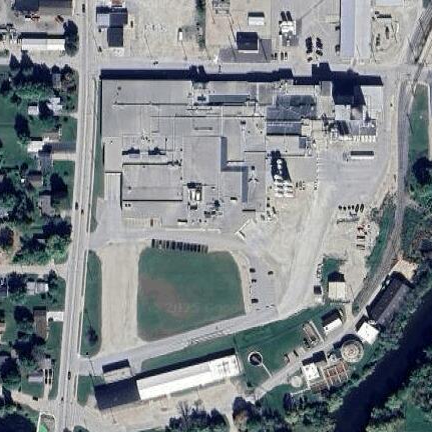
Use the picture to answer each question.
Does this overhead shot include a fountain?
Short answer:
No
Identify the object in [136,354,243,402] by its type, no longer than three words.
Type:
building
